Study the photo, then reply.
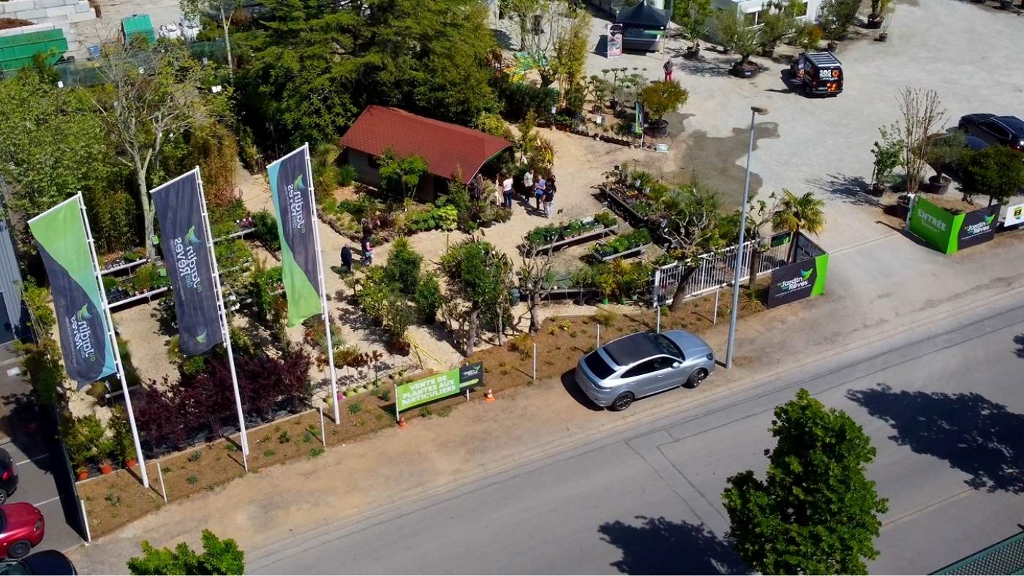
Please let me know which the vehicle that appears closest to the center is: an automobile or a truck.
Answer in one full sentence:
Specifically, the vehicle that appears closest to the center is an automobile.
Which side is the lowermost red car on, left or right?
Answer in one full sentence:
It is on the left.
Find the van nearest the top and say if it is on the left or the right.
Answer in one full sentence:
The van nearest the top sits on the right side.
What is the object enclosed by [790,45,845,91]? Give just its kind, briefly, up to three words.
van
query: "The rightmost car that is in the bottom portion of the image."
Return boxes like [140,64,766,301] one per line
[575,333,711,410]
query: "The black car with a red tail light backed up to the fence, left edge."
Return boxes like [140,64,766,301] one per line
[0,447,25,507]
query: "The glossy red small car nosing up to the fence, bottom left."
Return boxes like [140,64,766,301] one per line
[0,508,42,555]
